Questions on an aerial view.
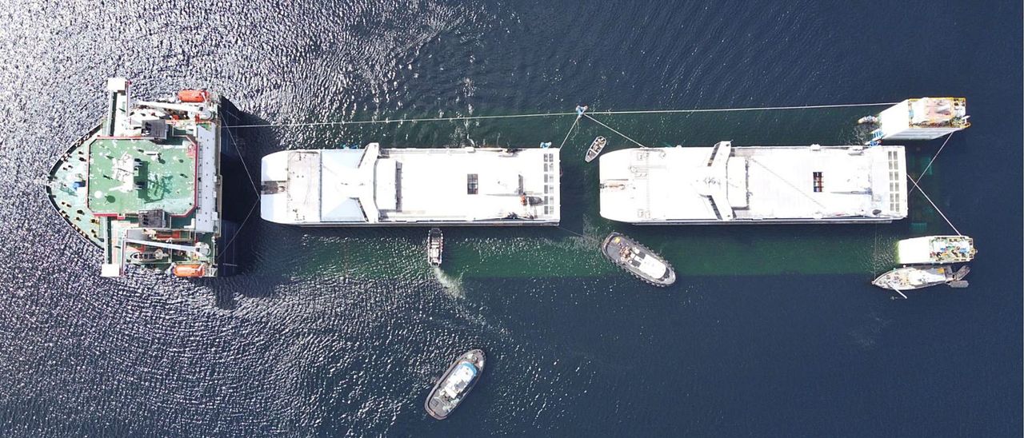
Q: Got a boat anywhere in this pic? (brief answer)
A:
Yes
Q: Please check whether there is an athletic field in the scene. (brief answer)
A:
No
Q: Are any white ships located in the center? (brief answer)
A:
Yes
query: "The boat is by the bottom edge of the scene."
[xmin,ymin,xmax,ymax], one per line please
[425,348,485,420]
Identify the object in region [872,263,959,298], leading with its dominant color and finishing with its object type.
white boat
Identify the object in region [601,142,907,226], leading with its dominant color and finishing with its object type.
white ship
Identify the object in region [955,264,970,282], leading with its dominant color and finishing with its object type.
gray boat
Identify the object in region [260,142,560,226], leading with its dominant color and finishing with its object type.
white ship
